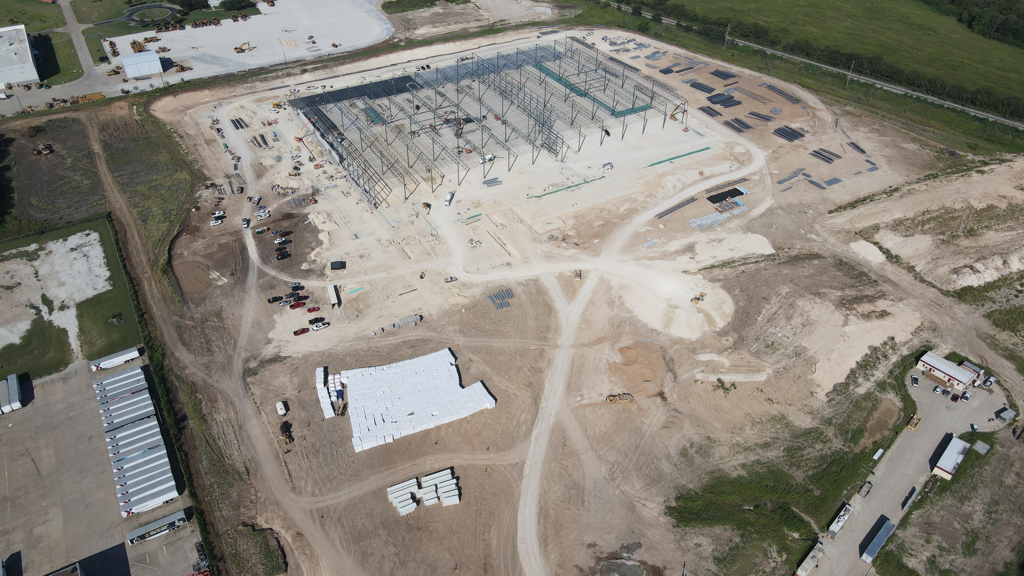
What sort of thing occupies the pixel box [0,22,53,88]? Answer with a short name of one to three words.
building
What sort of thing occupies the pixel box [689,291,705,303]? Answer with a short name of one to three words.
vehicle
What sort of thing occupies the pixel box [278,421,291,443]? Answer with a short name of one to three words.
vehicle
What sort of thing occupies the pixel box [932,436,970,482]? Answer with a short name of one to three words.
trailer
